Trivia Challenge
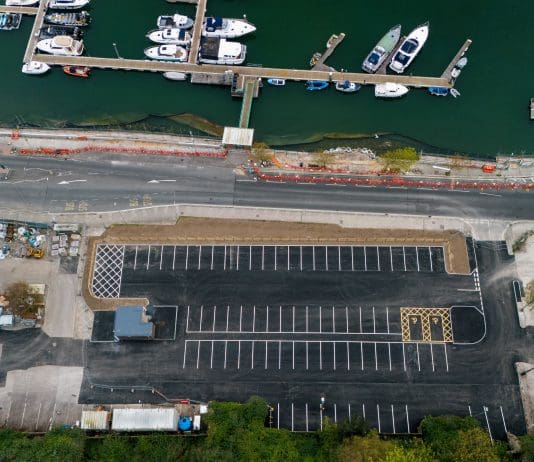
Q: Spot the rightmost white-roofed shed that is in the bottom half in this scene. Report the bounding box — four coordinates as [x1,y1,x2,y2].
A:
[112,407,180,431]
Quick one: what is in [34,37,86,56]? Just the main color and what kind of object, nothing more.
white boat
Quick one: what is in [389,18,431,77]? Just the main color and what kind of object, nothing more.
white boat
